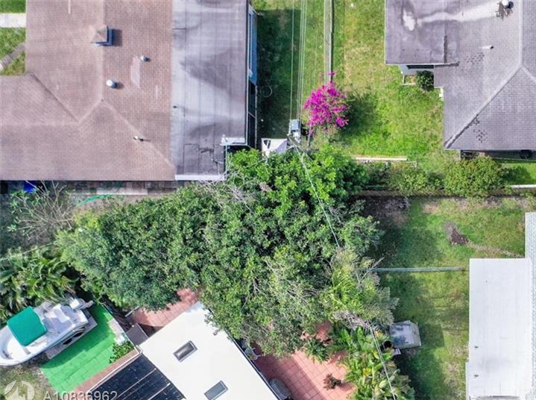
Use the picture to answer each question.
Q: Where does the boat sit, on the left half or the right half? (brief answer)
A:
left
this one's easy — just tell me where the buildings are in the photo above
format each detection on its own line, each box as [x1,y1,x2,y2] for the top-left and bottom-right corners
[66,302,281,400]
[0,0,266,181]
[390,321,425,349]
[465,212,536,400]
[385,0,536,160]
